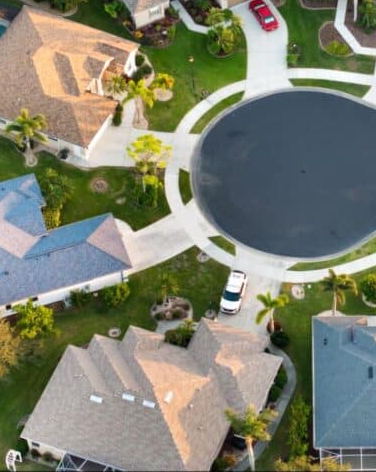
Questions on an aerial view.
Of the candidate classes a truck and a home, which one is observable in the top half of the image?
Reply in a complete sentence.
You can see a home in the top half of the image.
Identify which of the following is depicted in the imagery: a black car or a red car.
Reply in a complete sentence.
The one in the frame is a red car.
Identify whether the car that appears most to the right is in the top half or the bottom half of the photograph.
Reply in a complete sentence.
The car that appears most to the right sits in the top half of the picture.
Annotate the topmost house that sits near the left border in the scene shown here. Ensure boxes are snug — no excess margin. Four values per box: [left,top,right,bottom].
[0,5,139,155]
